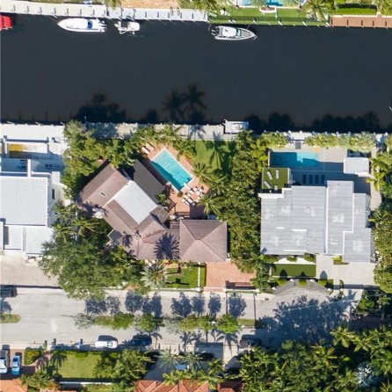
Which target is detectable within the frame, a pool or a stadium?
pool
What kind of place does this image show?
residential area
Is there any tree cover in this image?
Yes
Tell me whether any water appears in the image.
Yes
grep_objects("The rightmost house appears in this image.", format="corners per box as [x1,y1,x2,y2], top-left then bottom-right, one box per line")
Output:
[257,156,380,264]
